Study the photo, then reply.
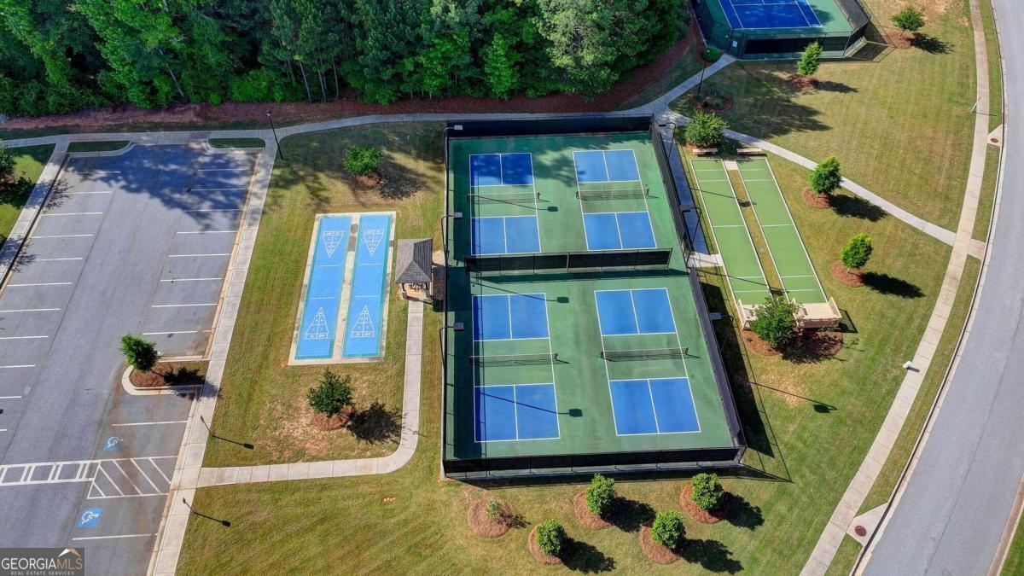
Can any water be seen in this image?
No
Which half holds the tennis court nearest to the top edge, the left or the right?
right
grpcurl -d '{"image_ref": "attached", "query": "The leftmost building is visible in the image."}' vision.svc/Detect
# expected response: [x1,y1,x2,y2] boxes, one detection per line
[394,238,445,302]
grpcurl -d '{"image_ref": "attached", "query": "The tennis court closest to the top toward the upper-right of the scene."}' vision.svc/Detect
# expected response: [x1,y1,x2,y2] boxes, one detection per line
[689,0,864,60]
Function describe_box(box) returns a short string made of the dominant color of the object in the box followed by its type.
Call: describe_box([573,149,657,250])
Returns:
blue sports court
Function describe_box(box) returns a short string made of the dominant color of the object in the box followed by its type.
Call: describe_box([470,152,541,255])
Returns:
blue sports court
